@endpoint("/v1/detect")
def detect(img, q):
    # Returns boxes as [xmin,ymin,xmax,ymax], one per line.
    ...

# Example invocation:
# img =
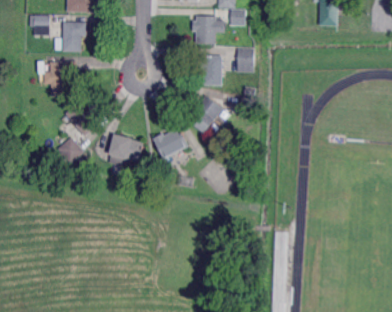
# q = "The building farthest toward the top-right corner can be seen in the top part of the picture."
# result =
[318,0,338,26]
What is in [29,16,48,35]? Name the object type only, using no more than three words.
building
